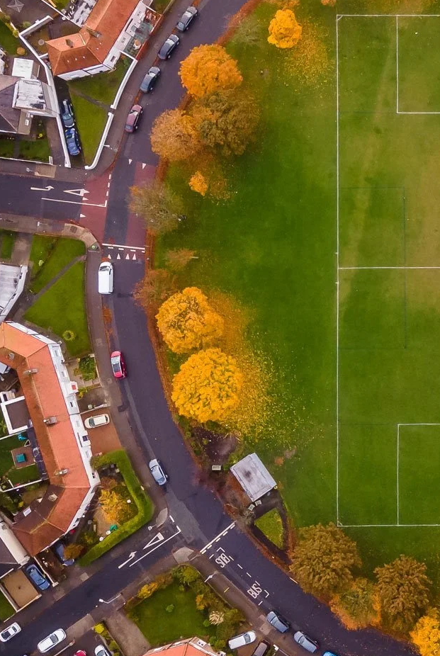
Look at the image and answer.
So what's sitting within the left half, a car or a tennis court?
car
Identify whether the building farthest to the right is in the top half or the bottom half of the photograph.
bottom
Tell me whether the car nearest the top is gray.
Yes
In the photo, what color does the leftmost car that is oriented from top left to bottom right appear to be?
blue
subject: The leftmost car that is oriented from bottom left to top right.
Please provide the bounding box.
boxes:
[0,620,25,645]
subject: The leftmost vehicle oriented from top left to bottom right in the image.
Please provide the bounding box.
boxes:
[26,563,52,592]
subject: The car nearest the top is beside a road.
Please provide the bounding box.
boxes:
[175,4,200,33]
